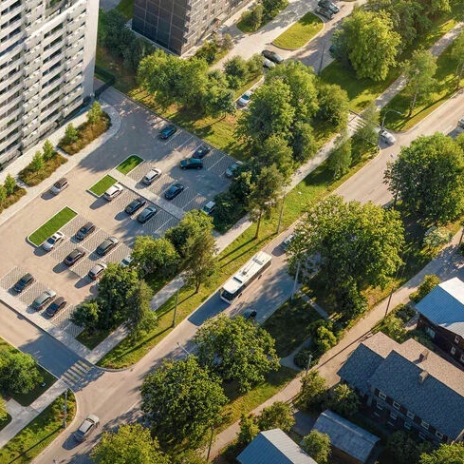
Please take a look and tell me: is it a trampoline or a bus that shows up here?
bus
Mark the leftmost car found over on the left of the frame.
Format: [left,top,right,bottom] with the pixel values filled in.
[11,273,37,294]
